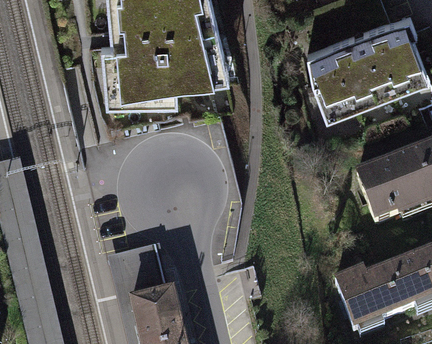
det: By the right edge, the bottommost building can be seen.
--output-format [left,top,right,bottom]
[335,242,432,340]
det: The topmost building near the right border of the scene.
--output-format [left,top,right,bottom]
[307,17,431,131]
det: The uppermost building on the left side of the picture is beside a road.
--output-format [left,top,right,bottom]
[102,0,237,115]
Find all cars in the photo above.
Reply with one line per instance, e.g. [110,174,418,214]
[95,202,118,215]
[102,225,125,237]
